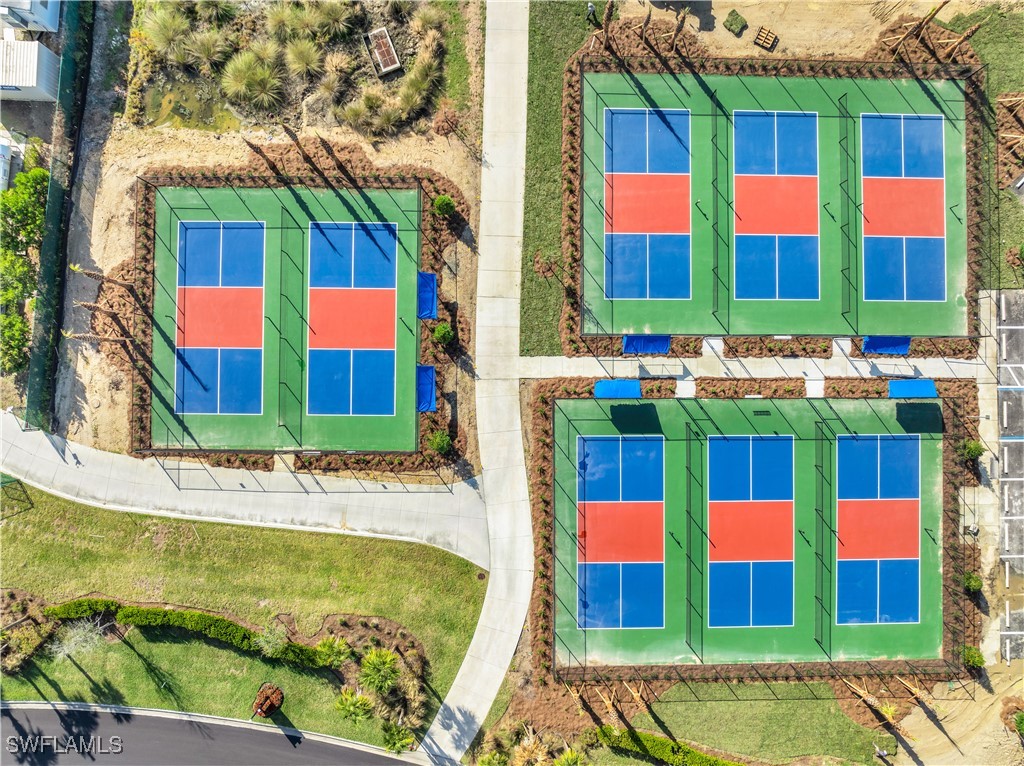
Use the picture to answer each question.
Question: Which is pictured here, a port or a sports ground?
sports ground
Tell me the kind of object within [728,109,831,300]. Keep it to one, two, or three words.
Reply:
sports court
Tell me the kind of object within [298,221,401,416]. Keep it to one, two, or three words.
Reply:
sports court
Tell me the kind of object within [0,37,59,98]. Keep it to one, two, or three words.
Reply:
shed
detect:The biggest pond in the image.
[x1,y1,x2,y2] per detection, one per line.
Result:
[139,74,246,134]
